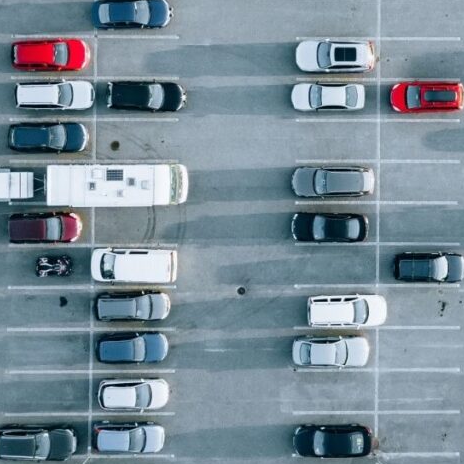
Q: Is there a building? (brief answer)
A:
No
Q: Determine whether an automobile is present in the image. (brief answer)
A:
Yes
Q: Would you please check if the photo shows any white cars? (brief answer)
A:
Yes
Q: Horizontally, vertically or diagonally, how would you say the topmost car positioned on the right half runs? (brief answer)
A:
horizontally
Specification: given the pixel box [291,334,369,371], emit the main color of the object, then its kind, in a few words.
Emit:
white car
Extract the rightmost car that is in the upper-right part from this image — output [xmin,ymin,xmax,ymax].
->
[390,78,464,115]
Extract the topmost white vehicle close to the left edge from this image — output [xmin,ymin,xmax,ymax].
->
[14,77,96,112]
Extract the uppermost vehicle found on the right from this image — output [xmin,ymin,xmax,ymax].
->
[295,37,375,74]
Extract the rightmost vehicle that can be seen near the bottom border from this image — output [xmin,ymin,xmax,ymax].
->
[293,421,373,462]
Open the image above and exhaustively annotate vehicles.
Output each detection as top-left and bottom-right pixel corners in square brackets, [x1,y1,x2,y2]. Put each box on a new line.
[292,163,375,200]
[292,210,369,246]
[47,162,191,208]
[295,37,375,74]
[293,421,373,462]
[14,77,96,112]
[307,293,388,332]
[0,423,78,464]
[38,254,73,275]
[390,78,464,115]
[6,210,83,247]
[91,0,173,31]
[291,80,366,114]
[98,377,170,415]
[11,35,91,72]
[291,334,369,371]
[95,331,169,367]
[6,119,89,155]
[395,250,464,286]
[91,247,177,286]
[105,78,186,114]
[93,420,165,458]
[94,290,171,326]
